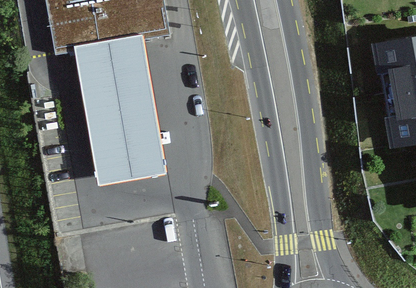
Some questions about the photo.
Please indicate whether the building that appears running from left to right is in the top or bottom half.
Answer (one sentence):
It is in the top half that the building that appears running from left to right appears.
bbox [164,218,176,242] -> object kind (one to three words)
vehicle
